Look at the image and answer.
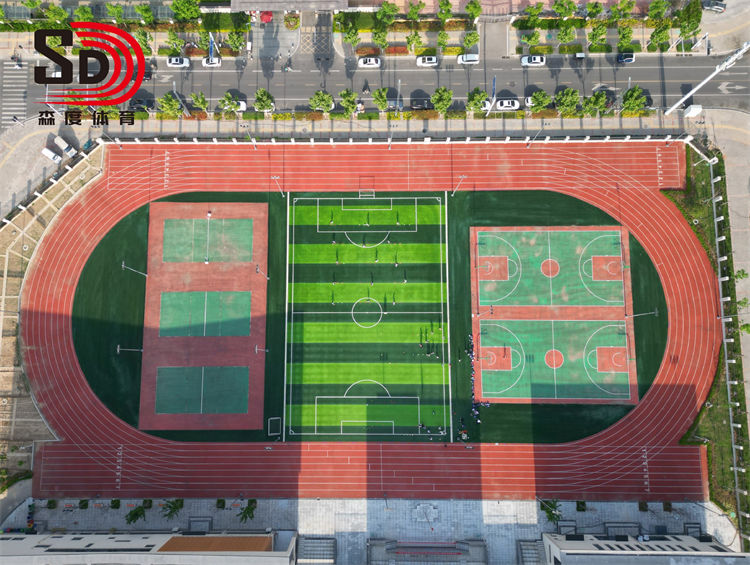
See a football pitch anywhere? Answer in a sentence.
Yes, I can see a football pitch in this picture.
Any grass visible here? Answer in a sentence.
Yes, there's grass in this view.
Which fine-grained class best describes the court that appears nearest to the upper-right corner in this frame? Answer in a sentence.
Looking closely, the court that appears nearest to the upper-right corner is a basketball court.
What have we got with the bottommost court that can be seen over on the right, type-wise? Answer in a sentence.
What you see as the bottommost court that can be seen over on the right is a basketball court.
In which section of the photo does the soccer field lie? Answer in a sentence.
The soccer field appears toward the center of the photo.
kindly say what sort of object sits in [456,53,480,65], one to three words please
vehicle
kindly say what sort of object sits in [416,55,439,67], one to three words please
vehicle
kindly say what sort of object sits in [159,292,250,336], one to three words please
sports court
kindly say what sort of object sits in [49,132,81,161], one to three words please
truck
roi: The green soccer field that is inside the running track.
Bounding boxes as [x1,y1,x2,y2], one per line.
[284,191,452,445]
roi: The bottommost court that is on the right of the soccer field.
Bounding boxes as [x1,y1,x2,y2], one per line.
[480,320,631,399]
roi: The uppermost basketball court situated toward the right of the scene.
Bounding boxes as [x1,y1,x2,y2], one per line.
[478,231,625,306]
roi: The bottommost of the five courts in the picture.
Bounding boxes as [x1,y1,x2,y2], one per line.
[156,366,249,413]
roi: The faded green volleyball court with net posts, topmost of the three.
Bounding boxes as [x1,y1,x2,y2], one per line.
[163,218,253,262]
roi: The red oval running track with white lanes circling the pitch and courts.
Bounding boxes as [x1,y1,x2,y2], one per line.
[17,141,723,501]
